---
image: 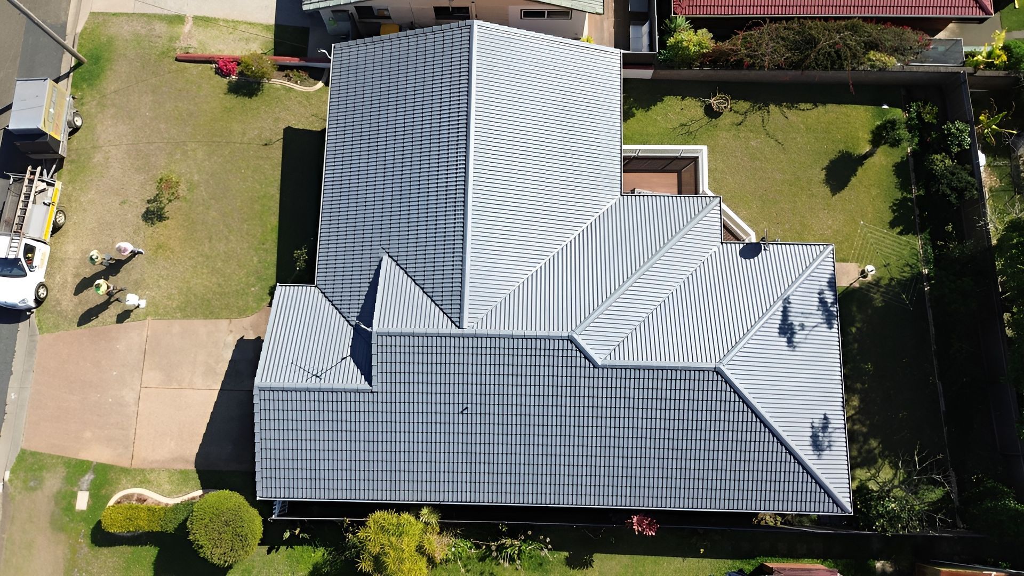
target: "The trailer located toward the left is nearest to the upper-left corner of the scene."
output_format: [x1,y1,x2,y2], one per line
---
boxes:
[6,78,78,179]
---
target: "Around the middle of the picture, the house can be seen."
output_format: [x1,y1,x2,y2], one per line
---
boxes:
[253,17,855,518]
